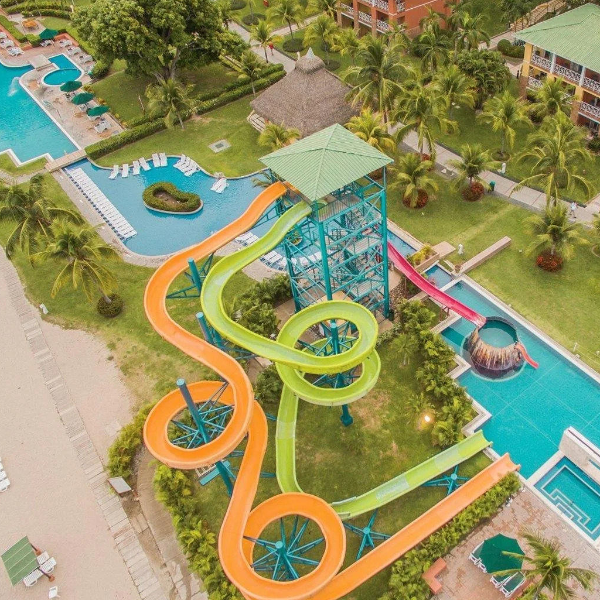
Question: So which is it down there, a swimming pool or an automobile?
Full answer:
It is a swimming pool that can be seen here.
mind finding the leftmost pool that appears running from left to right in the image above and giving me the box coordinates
[67,157,421,275]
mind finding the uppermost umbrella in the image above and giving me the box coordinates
[38,30,61,46]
